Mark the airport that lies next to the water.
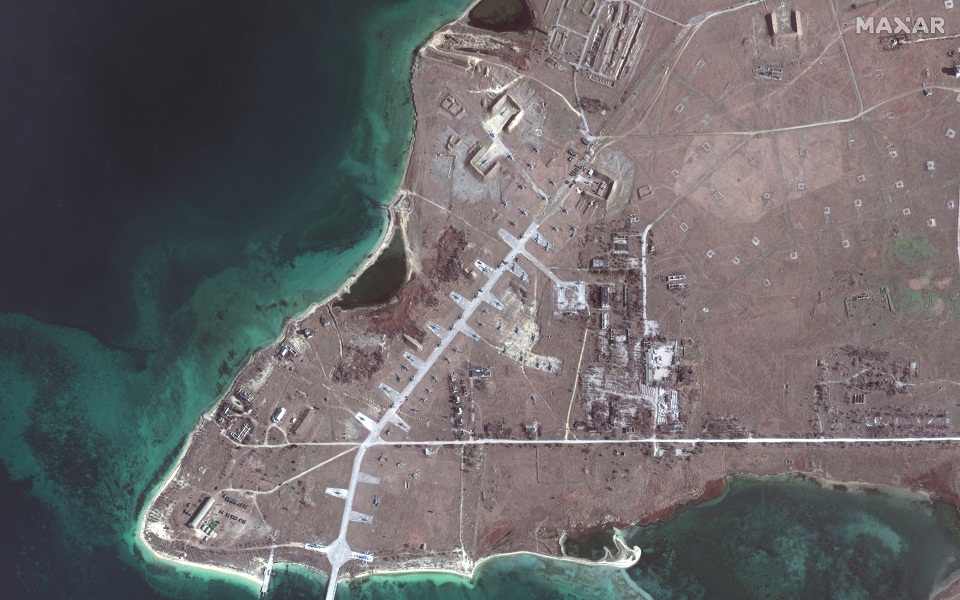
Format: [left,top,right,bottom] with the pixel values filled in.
[305,104,592,570]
